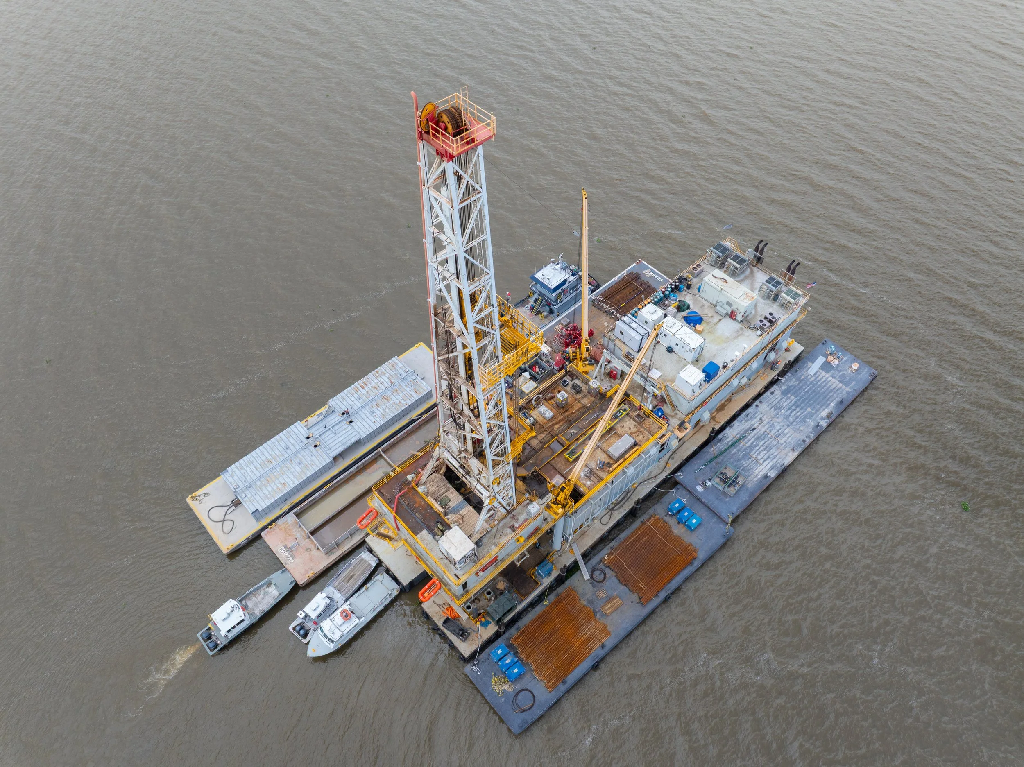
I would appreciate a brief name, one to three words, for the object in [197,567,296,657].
boat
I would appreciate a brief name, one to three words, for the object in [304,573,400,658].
boat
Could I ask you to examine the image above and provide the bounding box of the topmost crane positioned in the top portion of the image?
[569,184,601,368]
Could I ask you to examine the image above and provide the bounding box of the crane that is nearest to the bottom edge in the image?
[540,321,664,552]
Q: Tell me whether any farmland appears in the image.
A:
No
